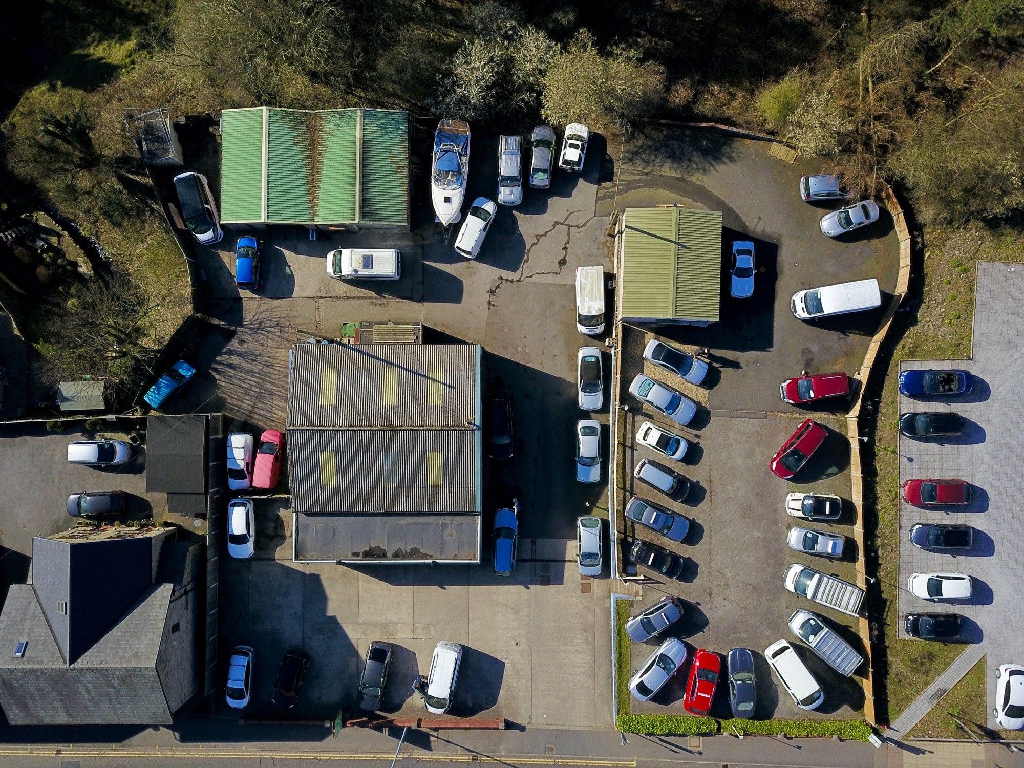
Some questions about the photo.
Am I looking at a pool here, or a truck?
truck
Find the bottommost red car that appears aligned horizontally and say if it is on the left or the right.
right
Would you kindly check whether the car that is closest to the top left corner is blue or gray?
blue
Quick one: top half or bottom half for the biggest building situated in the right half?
top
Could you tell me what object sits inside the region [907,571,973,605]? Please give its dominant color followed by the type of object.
white car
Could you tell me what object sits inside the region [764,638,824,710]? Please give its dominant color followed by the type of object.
white van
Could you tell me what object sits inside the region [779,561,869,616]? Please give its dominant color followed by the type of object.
white truck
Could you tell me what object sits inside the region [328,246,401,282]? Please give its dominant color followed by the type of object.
white van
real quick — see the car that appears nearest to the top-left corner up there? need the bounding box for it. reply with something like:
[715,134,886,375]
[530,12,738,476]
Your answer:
[231,236,263,290]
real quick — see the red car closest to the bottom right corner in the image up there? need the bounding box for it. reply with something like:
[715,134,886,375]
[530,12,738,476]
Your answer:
[902,477,972,510]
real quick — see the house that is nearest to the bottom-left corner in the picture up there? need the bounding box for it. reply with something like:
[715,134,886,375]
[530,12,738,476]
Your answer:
[0,527,202,725]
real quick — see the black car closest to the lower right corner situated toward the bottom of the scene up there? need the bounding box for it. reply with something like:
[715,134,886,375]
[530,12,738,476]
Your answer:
[904,611,965,645]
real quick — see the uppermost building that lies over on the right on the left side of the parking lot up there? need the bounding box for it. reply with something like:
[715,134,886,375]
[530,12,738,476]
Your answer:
[619,206,723,326]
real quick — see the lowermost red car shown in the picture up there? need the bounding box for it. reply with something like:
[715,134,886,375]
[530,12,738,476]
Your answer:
[682,648,722,715]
